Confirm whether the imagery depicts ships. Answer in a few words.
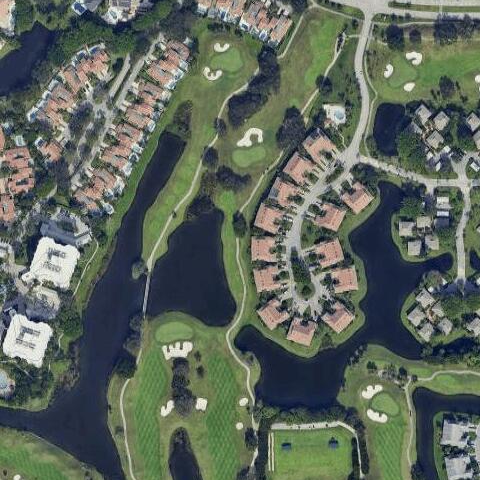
No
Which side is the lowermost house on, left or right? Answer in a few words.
right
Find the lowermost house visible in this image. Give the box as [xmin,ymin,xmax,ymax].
[444,456,479,480]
